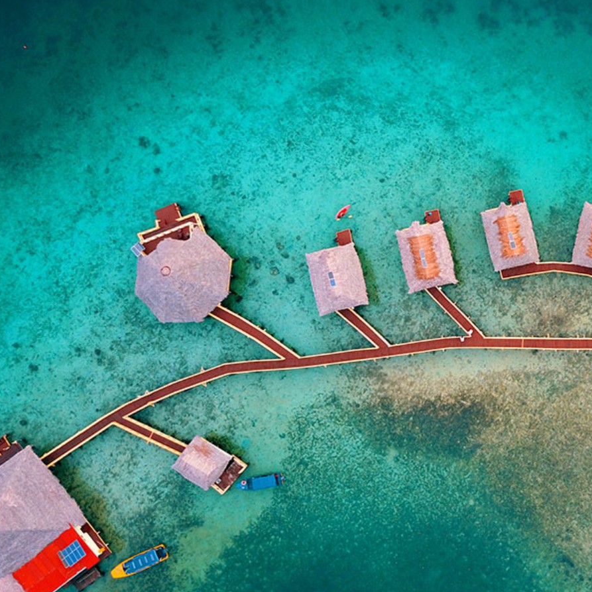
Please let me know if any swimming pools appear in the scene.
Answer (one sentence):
No, the picture doesn't show any swimming pool.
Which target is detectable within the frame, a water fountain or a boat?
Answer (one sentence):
This aerial view contains a boat.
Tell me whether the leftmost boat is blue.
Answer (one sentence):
Yes, blue is the color of the leftmost boat.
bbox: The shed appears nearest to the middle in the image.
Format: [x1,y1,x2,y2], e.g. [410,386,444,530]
[304,228,371,316]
